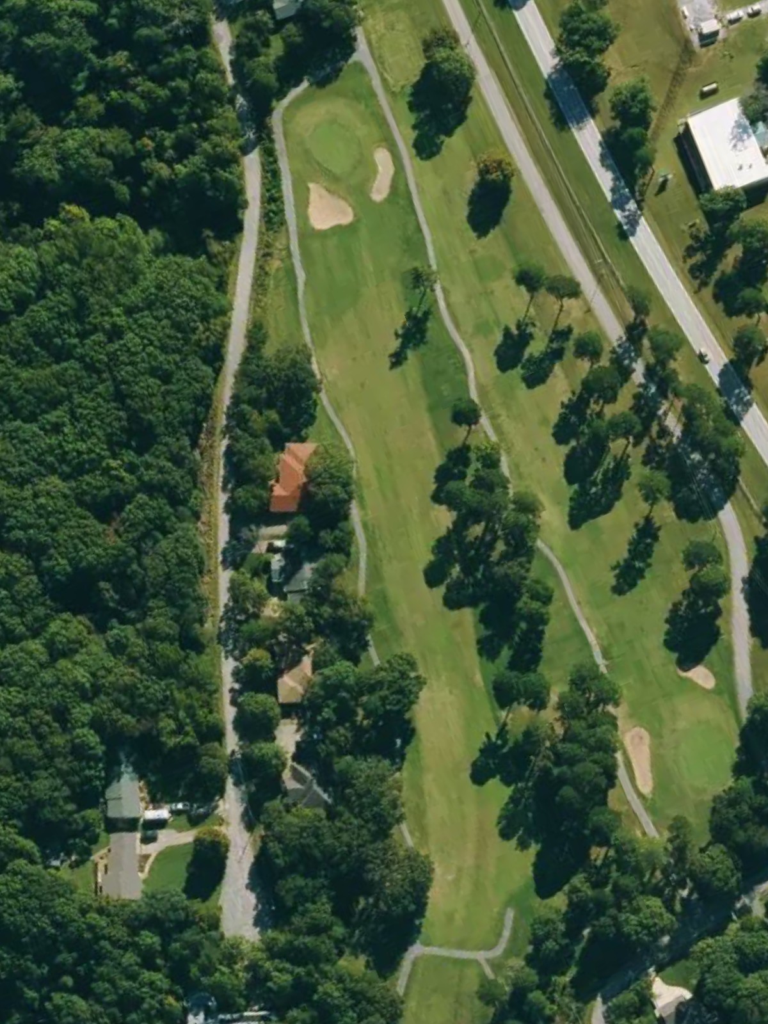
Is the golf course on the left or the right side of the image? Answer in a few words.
right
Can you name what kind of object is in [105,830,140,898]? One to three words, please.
house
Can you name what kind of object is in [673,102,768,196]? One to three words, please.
building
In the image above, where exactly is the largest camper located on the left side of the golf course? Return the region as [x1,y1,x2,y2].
[145,810,173,822]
